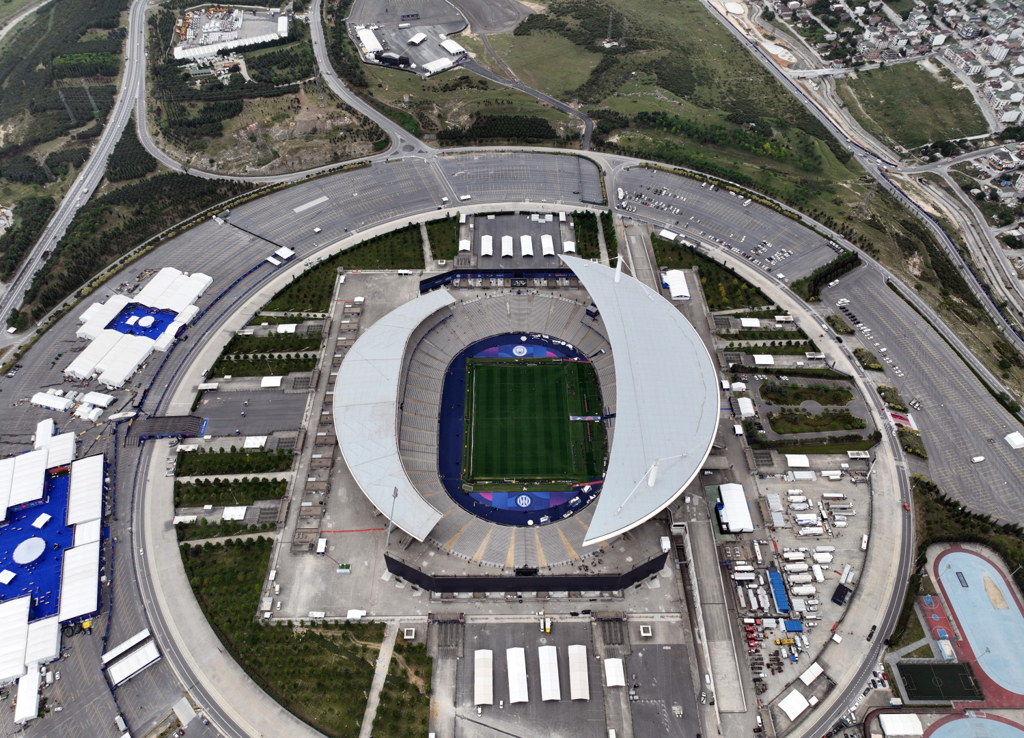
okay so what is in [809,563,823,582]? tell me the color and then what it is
white vehicle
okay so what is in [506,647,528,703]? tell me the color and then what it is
white tent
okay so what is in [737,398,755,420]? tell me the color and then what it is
white tent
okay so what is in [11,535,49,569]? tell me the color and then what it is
white umbrella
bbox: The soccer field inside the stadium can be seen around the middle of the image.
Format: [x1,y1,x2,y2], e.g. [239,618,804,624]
[461,357,606,492]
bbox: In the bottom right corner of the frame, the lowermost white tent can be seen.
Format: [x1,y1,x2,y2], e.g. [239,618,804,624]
[875,713,923,738]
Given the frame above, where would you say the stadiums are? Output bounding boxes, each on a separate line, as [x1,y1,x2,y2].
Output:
[261,254,768,626]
